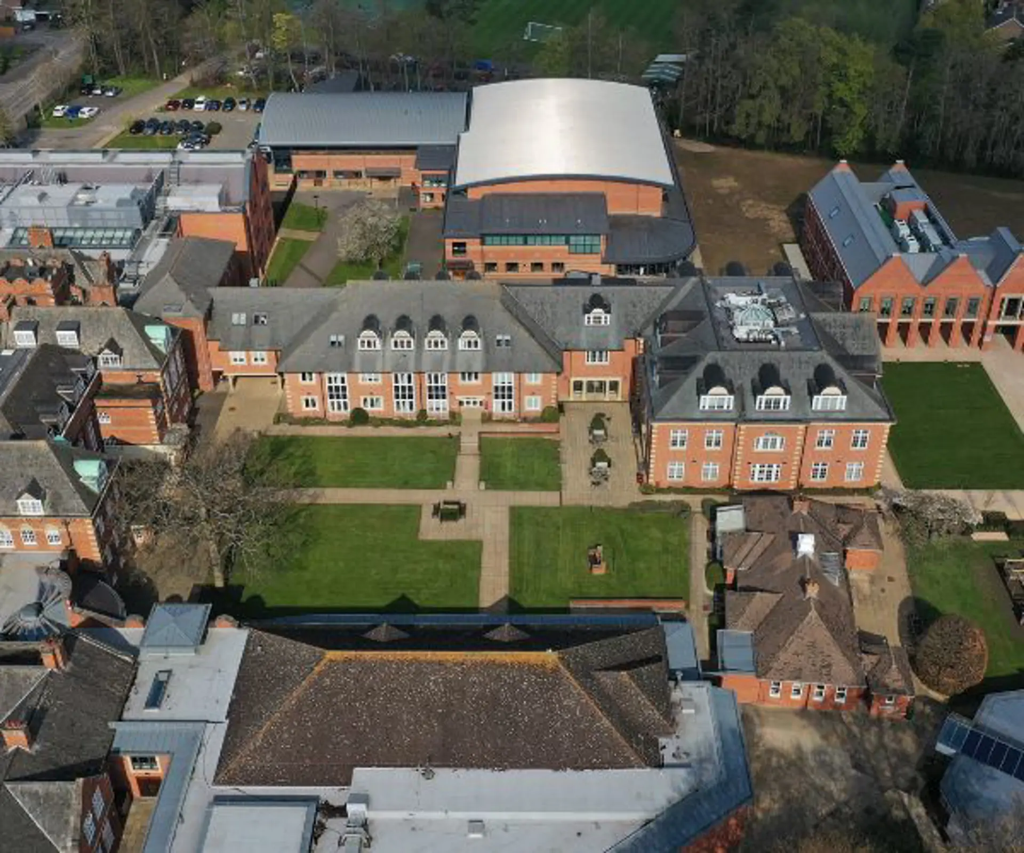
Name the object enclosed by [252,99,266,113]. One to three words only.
car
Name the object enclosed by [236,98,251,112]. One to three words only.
car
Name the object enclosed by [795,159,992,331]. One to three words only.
building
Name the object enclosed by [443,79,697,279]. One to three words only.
building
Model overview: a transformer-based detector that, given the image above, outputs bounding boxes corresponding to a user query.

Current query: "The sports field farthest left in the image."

[472,0,689,68]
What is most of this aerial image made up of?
buildings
